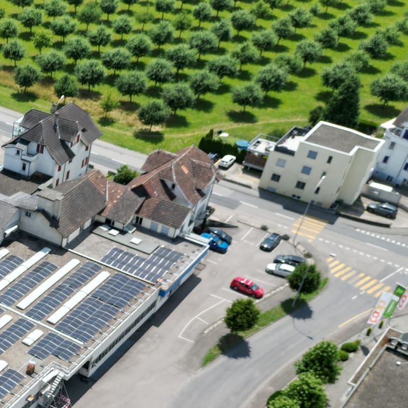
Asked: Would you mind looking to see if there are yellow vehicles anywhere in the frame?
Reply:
No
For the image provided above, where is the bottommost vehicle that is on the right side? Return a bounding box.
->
[230,276,264,299]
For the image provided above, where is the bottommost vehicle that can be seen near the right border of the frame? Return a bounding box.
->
[366,203,399,218]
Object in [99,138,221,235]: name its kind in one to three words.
house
